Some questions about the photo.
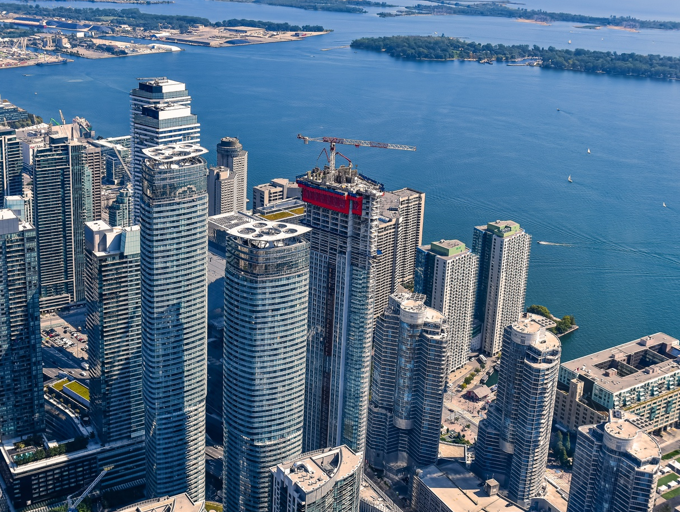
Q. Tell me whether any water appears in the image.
Yes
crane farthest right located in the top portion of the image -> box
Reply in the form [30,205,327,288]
[302,131,409,186]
